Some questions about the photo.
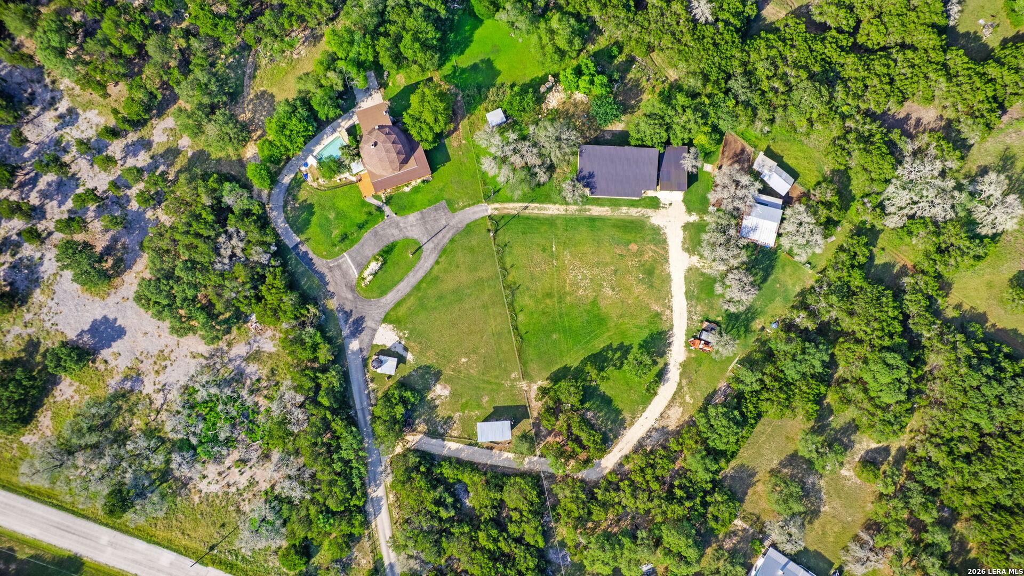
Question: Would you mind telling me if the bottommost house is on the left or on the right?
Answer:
right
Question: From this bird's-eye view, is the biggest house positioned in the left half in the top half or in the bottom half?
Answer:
top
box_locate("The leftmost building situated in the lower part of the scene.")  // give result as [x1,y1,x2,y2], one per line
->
[376,355,399,375]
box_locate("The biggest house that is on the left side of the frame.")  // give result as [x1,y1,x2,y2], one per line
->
[356,102,433,196]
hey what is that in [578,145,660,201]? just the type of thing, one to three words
barn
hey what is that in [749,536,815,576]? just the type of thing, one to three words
house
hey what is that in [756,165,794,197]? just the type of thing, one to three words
shed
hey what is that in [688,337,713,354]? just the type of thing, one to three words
work vehicle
